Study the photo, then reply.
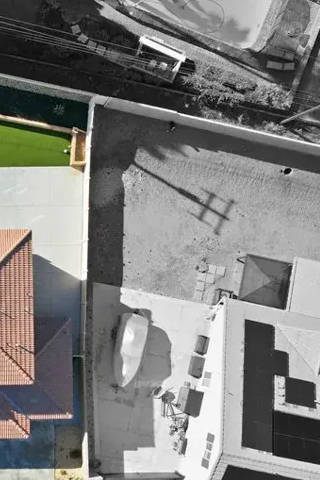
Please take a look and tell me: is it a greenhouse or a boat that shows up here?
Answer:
boat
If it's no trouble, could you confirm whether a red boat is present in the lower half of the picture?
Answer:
No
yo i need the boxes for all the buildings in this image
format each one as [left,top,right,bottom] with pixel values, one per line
[181,298,320,480]
[0,228,73,440]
